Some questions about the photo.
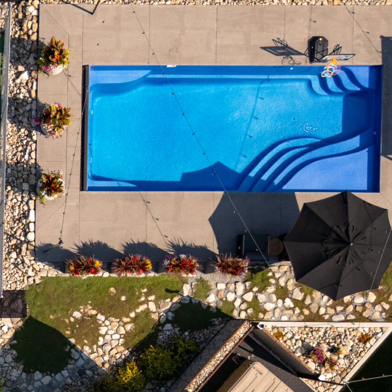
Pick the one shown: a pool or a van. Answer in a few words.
pool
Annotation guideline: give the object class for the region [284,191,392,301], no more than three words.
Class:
umbrella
